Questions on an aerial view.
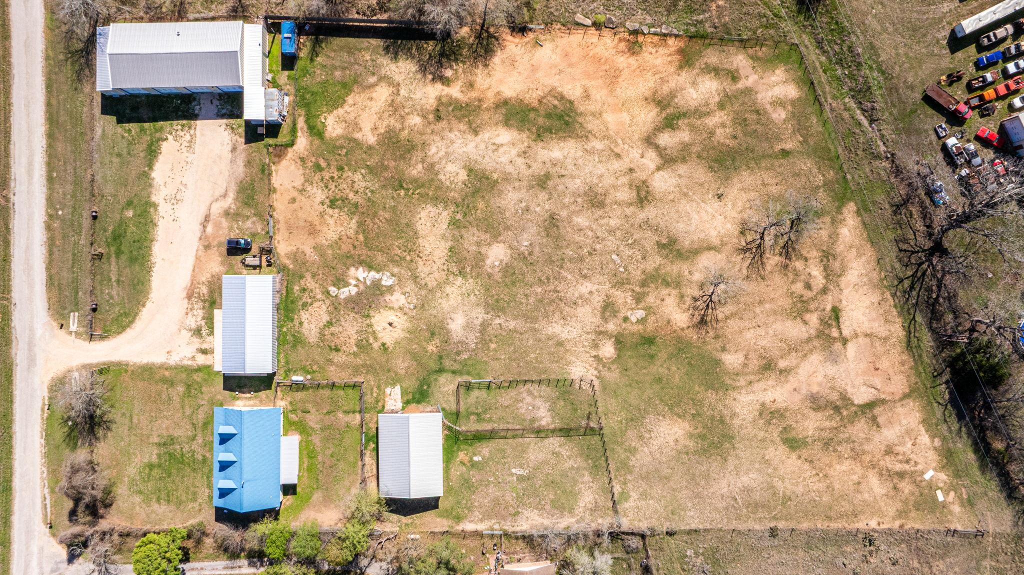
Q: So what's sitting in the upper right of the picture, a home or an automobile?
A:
automobile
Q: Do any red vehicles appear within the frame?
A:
Yes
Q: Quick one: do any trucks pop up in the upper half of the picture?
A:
Yes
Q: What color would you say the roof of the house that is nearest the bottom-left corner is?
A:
blue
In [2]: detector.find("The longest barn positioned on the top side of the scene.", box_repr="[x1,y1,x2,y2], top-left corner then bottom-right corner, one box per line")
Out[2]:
[95,21,268,122]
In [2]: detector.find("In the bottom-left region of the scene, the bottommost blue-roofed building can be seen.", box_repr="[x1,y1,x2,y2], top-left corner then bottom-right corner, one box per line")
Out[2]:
[212,405,298,512]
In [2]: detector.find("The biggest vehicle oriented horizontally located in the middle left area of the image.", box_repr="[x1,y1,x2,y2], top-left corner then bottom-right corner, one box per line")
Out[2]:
[225,238,251,250]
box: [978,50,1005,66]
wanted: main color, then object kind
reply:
blue car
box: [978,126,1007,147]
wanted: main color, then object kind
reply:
red car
